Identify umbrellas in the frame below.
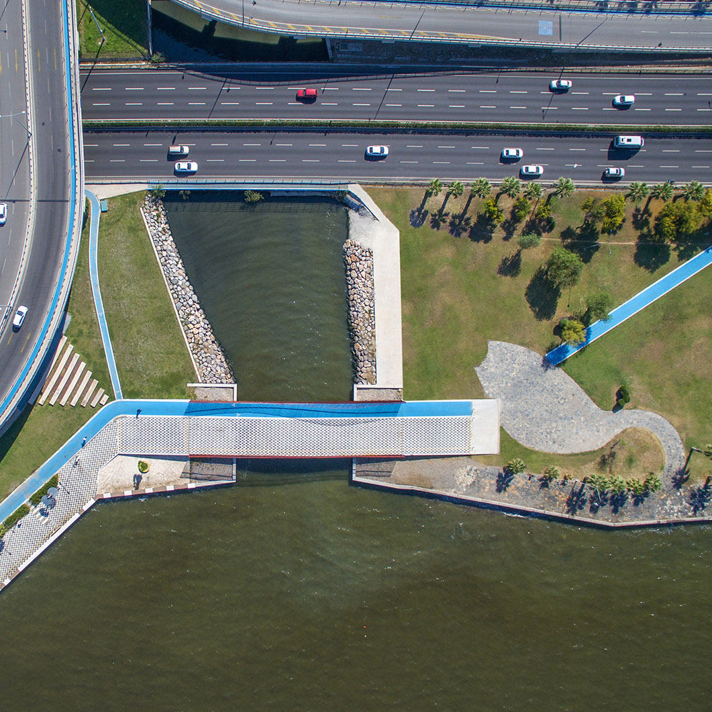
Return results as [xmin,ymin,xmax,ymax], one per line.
[42,495,52,505]
[48,486,59,497]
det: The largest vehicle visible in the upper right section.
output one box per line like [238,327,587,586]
[611,135,642,148]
